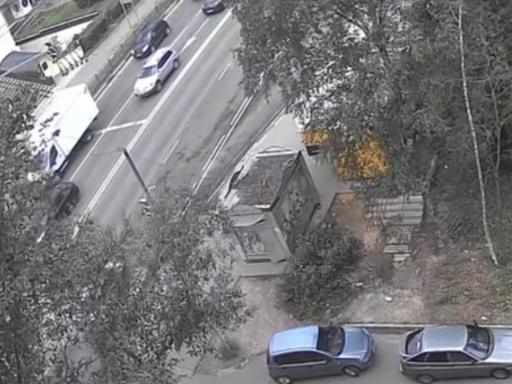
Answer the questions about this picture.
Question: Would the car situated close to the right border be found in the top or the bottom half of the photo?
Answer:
bottom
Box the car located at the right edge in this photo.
[399,319,512,381]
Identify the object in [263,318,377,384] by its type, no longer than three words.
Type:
car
